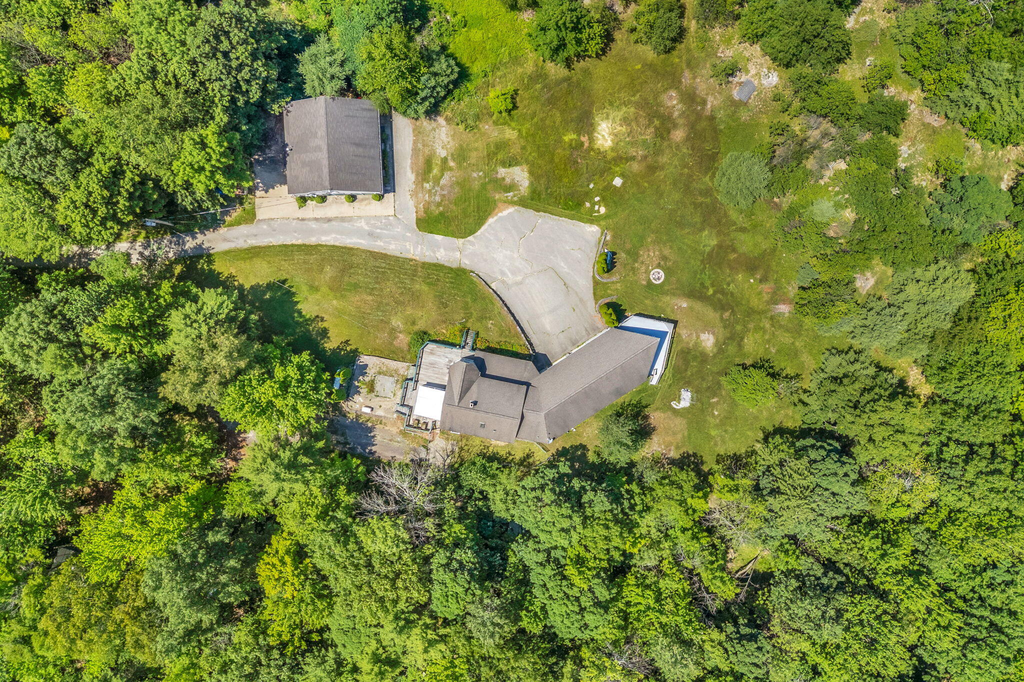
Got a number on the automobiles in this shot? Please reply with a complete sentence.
The count of automobiles is 0.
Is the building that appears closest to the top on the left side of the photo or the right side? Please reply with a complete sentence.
The building that appears closest to the top is on the left side of the image.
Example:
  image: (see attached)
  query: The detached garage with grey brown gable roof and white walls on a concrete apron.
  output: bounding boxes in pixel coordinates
[284,97,384,197]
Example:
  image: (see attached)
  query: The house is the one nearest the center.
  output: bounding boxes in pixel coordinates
[440,328,660,444]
